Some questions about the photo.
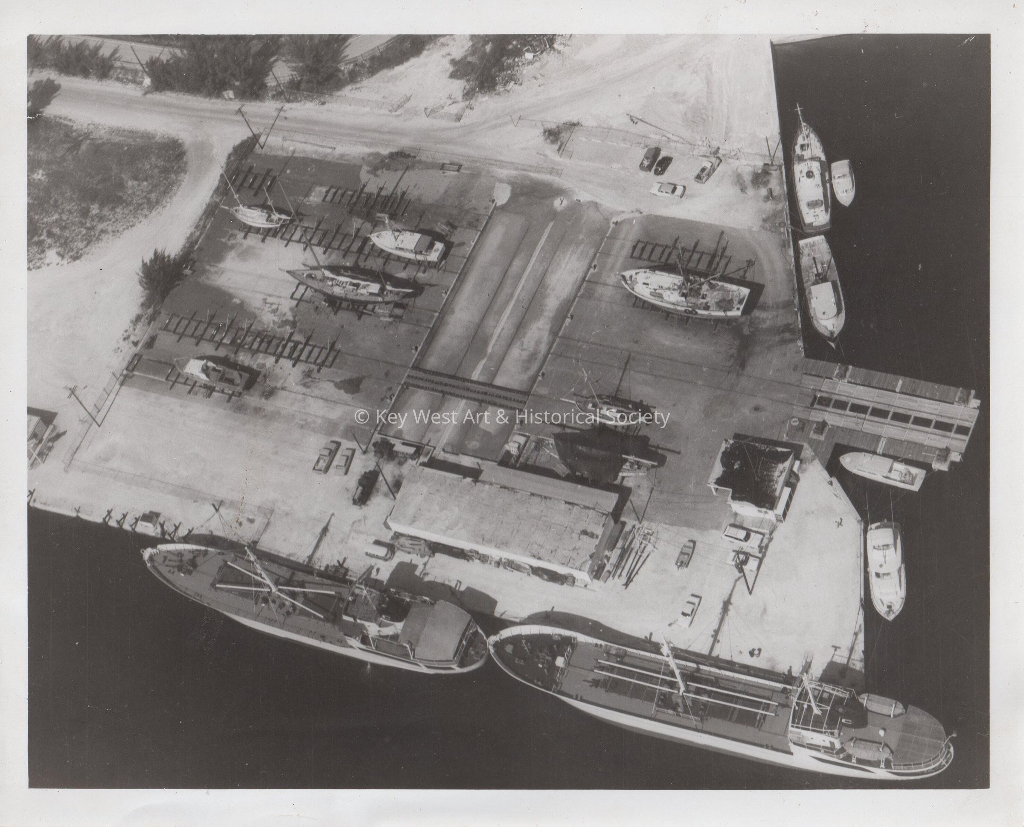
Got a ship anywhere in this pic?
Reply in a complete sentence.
Yes, there's a ship down there.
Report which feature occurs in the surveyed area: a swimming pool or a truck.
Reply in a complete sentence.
Visible in the photo is a truck.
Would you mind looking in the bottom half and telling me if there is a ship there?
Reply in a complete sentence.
Yes, a ship shows up in the bottom half.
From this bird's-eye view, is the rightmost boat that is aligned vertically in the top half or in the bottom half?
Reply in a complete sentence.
The bottom half of the photo is where the rightmost boat that is aligned vertically is.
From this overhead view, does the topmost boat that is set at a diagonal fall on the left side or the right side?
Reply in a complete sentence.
The topmost boat that is set at a diagonal is on the left side of the image.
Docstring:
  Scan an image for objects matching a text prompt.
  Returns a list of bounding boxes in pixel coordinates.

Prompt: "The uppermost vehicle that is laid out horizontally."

[647,186,689,203]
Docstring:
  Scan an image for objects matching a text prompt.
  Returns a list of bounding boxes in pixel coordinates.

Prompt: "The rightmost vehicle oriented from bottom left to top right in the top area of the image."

[692,155,724,186]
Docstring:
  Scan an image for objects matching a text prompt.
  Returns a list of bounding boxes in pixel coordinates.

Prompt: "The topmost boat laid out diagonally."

[214,160,290,229]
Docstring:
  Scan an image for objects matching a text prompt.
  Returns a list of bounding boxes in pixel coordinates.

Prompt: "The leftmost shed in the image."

[0,404,48,450]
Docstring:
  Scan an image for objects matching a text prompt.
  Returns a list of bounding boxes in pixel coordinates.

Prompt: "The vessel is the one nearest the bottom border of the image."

[487,627,958,777]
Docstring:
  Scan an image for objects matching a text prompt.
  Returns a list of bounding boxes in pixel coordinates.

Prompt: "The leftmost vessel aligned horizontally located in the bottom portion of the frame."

[136,542,490,670]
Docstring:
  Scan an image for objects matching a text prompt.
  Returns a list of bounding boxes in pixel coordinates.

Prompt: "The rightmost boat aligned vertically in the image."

[862,492,909,627]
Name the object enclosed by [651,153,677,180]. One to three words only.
car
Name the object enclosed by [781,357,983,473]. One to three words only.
pier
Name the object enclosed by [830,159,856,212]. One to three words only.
boat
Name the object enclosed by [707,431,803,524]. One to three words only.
building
